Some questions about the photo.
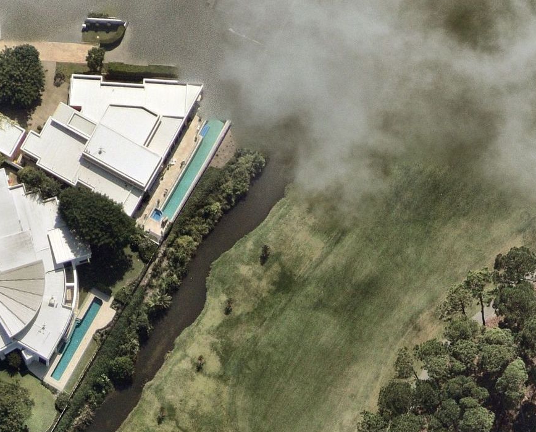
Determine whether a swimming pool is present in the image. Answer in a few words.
Yes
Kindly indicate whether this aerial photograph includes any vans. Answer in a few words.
No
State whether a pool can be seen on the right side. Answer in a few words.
No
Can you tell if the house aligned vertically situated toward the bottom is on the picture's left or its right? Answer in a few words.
left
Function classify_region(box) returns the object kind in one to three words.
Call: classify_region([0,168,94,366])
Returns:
house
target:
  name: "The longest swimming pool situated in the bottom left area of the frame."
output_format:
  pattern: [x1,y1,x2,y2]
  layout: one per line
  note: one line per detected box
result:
[50,296,103,382]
